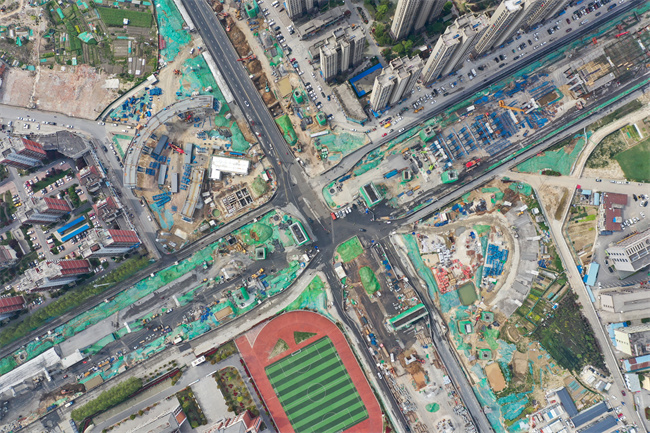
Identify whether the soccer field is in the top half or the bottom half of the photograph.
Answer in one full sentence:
The soccer field is in the bottom half of the image.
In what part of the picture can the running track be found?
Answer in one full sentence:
The running track is located in the bottom region of the scene.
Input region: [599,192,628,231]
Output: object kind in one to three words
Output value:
house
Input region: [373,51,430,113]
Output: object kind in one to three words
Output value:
building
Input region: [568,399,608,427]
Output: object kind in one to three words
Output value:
shed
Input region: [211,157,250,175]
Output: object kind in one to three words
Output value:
building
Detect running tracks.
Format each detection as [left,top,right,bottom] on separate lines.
[234,310,383,433]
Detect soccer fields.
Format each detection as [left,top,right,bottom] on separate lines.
[265,336,368,433]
